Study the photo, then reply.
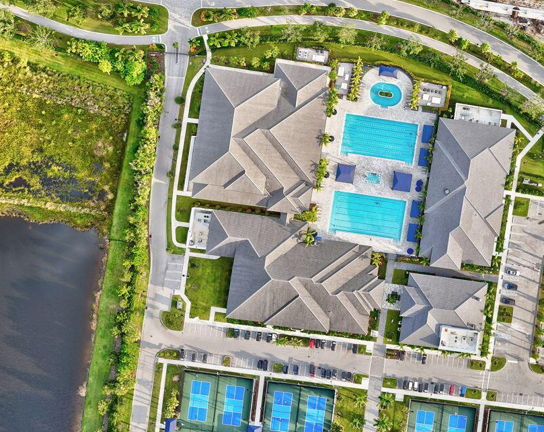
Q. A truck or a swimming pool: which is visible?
swimming pool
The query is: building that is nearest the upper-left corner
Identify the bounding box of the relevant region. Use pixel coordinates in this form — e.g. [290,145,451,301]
[189,60,330,214]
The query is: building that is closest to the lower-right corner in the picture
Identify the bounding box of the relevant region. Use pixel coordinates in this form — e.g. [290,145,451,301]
[395,273,489,353]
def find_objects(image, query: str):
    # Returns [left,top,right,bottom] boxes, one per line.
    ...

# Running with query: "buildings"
[395,273,489,353]
[207,210,385,334]
[189,60,330,214]
[420,118,515,269]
